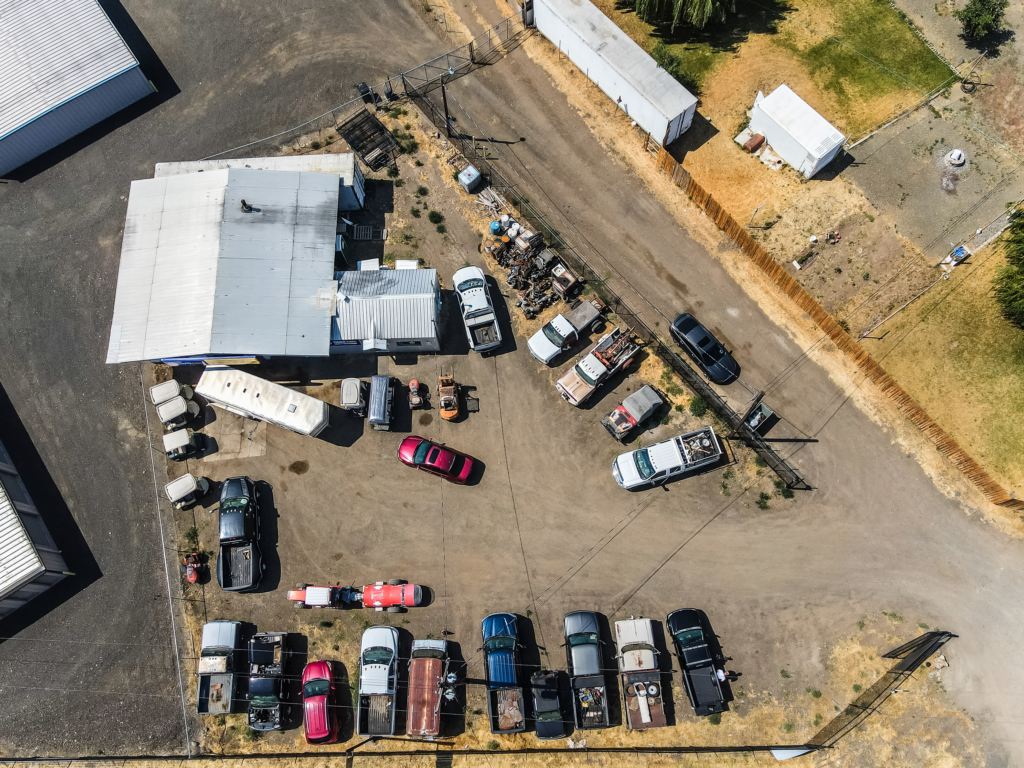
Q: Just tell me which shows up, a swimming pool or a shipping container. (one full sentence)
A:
Looking from above, you can make out a shipping container.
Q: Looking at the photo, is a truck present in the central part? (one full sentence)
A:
Yes, a truck can be seen in the central part.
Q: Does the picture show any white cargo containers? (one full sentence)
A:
Yes, the image includes a white cargo container.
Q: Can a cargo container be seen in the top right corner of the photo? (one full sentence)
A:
Yes, a cargo container shows up in the top right corner of the photo.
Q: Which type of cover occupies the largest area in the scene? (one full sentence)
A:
Most of the picture is covered by paved ground.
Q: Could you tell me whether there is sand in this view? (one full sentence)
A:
No, the scene doesn't show any sand.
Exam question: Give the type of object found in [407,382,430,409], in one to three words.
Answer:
work vehicle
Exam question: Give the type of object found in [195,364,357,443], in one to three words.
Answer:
trailer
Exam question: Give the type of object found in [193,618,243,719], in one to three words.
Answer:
truck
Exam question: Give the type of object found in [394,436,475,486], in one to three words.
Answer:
car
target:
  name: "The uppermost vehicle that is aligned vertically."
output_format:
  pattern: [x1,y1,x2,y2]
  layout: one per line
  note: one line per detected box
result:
[453,264,501,359]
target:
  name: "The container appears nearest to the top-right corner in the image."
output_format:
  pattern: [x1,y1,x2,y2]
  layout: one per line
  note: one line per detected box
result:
[750,82,849,179]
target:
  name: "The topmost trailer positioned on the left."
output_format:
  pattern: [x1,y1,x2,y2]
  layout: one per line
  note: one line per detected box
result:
[330,100,398,169]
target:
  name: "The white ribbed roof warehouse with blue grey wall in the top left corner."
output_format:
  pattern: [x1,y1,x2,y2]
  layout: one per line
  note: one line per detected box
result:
[0,0,154,175]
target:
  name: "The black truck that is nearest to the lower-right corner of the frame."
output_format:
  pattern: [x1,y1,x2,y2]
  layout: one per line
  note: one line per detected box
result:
[666,605,728,719]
